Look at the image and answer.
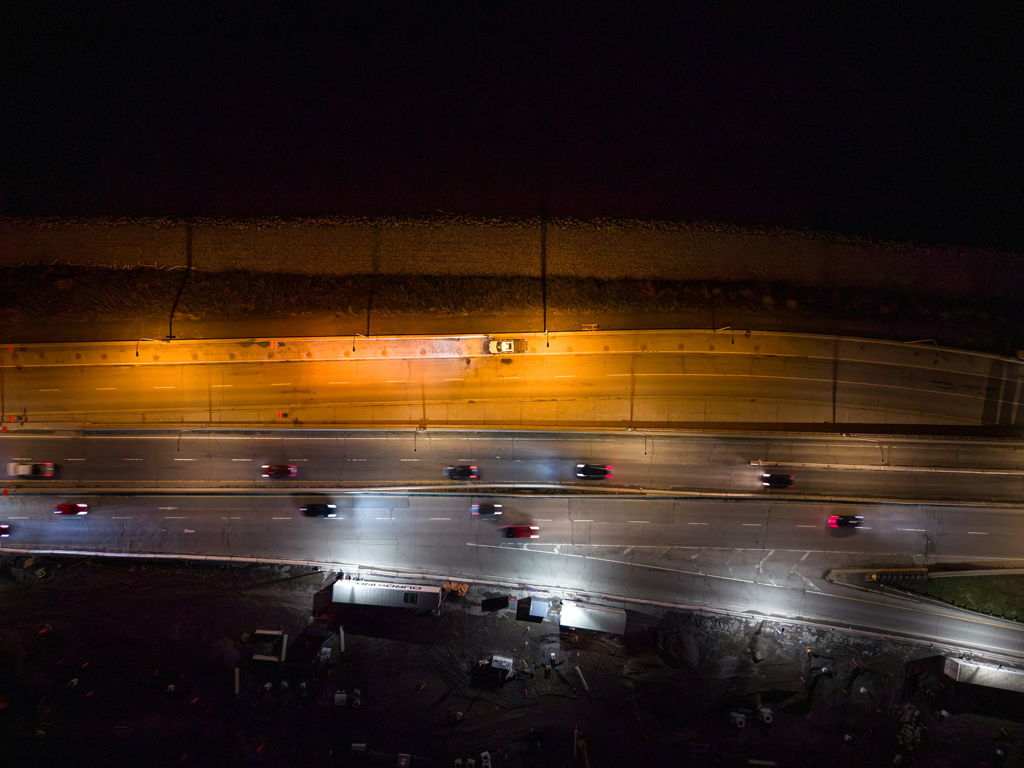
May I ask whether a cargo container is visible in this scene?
Yes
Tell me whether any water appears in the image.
Yes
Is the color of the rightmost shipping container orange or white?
white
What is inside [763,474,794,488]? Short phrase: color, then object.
black car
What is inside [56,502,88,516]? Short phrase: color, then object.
red car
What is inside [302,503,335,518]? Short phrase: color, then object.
black car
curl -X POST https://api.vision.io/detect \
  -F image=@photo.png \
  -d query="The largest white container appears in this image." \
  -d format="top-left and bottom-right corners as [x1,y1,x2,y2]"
[558,599,627,634]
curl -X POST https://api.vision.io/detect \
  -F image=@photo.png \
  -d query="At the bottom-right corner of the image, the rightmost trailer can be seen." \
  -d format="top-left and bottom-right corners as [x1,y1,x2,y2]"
[944,656,1024,692]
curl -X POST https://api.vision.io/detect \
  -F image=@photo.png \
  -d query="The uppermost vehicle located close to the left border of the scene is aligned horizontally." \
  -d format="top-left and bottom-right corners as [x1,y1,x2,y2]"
[11,463,52,478]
